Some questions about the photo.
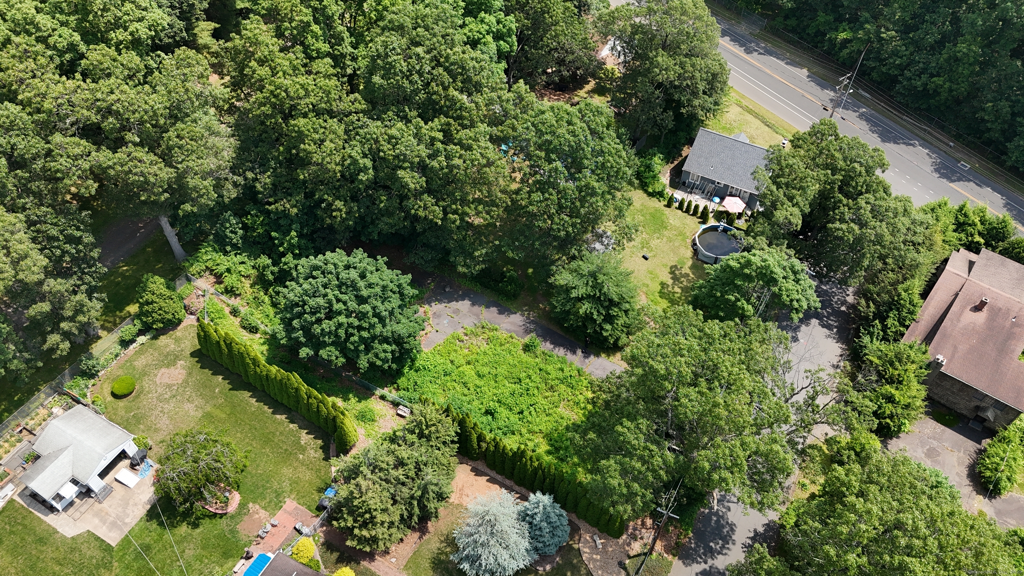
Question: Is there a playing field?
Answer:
No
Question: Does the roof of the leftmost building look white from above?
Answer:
Yes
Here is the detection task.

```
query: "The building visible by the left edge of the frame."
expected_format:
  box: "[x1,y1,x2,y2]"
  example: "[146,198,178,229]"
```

[18,405,139,524]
